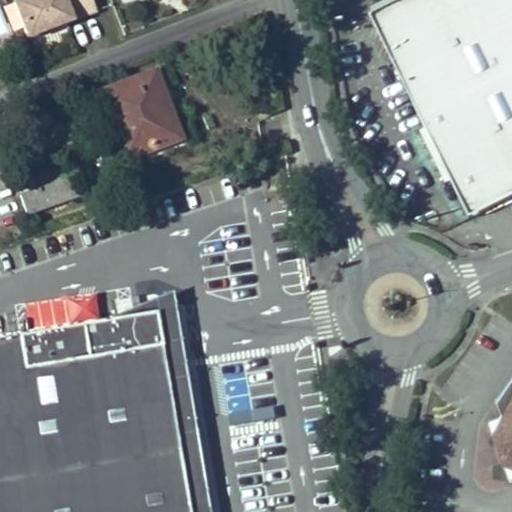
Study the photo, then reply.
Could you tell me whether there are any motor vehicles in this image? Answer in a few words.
Yes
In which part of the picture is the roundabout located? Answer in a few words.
right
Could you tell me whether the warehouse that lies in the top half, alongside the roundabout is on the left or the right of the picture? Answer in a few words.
right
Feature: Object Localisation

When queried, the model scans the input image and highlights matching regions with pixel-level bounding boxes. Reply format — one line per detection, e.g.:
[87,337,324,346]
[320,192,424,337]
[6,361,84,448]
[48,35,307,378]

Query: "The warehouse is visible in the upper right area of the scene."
[368,0,512,215]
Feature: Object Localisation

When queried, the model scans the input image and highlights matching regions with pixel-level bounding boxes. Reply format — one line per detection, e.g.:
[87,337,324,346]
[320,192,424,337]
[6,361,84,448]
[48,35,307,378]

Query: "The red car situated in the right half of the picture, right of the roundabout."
[478,334,500,351]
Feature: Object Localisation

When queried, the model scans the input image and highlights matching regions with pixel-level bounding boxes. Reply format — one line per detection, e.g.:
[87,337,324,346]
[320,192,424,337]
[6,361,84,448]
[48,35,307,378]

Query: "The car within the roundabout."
[425,274,440,296]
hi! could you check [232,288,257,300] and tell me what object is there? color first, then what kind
gray vehicle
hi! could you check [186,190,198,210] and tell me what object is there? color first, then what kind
white vehicle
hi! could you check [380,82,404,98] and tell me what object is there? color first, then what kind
white car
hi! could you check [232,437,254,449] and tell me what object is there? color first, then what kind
white vehicle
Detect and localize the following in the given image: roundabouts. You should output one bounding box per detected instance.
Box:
[334,241,460,367]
